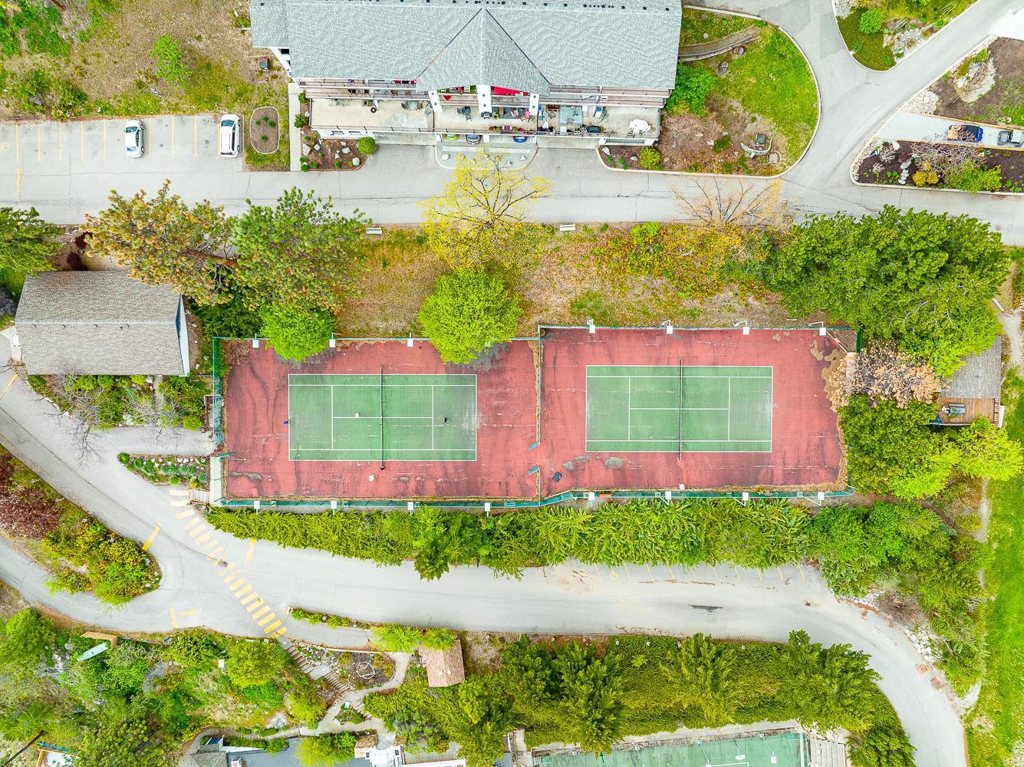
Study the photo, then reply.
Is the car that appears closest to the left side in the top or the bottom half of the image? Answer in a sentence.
Seen from above, the car that appears closest to the left side lies in the top half of the view.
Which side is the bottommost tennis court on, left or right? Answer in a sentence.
It is on the right.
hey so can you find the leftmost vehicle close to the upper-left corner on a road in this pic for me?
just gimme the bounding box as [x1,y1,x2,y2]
[122,119,144,157]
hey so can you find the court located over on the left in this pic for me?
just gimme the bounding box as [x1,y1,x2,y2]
[219,335,551,501]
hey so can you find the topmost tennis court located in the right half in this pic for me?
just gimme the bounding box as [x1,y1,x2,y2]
[541,325,852,502]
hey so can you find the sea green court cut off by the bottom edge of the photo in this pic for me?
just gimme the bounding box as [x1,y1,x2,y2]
[538,734,800,767]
